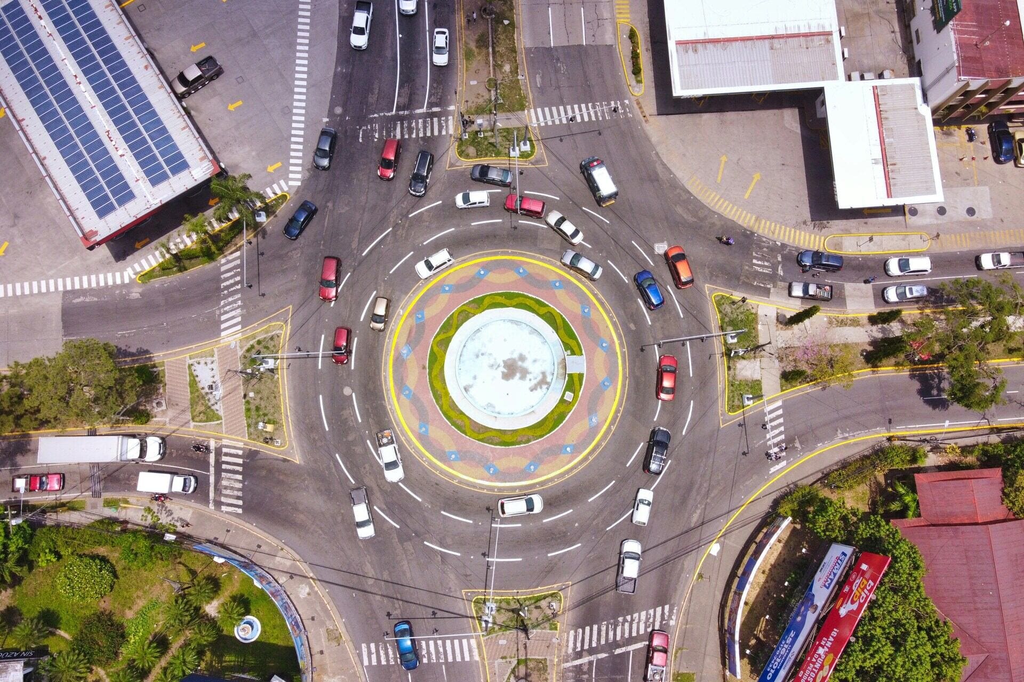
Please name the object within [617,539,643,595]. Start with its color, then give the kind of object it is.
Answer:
white truck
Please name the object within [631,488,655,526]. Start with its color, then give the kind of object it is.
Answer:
white car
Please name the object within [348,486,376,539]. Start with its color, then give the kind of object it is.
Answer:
white truck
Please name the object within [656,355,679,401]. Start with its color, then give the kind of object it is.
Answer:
red car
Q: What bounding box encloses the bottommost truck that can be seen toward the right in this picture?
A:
[644,630,672,682]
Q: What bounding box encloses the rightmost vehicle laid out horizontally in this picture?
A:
[973,249,1024,272]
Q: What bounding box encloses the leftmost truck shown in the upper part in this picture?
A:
[170,53,227,96]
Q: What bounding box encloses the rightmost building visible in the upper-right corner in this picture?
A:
[903,0,1024,122]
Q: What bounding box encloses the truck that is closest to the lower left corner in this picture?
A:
[9,471,67,495]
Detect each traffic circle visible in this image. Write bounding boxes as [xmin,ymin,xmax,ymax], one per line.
[382,251,630,498]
